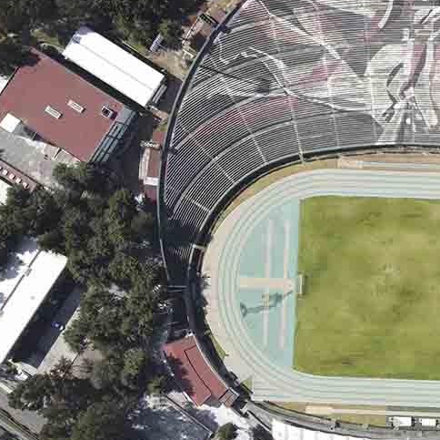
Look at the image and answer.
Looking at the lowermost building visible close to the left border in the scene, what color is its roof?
white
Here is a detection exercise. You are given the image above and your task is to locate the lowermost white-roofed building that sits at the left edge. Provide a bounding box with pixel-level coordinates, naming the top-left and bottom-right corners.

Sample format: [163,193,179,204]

[0,233,76,364]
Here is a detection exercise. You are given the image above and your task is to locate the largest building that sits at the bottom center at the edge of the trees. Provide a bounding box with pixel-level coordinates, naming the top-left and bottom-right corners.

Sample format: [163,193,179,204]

[165,333,232,406]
